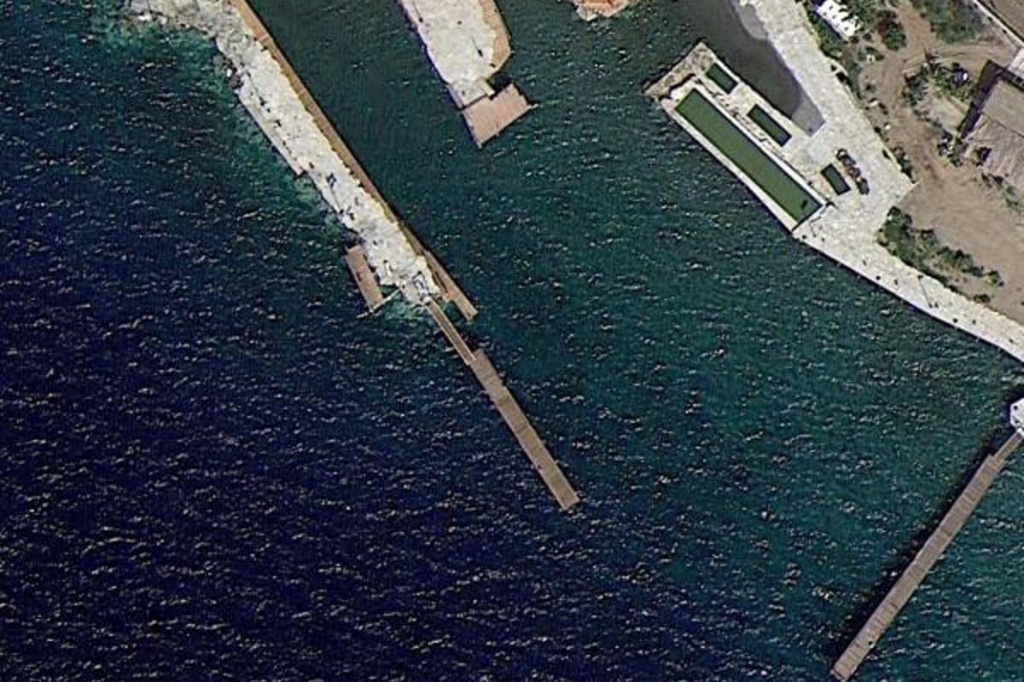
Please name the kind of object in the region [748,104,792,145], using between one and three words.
swimming pool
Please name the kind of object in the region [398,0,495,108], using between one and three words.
pier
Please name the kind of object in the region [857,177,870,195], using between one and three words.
vehicle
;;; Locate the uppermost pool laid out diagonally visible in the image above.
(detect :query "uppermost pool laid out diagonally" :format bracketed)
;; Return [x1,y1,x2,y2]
[708,64,738,92]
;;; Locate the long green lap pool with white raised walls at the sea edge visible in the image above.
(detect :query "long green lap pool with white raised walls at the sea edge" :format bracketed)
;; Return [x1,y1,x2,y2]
[669,80,828,228]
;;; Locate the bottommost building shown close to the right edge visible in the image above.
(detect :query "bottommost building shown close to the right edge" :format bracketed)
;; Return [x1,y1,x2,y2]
[966,79,1024,183]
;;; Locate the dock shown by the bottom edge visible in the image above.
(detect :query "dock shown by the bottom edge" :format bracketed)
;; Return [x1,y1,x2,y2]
[831,456,1004,682]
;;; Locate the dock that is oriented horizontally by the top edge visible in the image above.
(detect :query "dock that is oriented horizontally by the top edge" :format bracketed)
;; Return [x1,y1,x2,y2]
[573,0,634,20]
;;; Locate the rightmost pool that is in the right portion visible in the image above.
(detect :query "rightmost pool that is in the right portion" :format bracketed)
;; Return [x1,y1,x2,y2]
[822,164,850,195]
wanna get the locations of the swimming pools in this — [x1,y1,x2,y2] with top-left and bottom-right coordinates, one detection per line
[669,80,828,228]
[748,104,792,145]
[822,164,850,195]
[708,64,738,92]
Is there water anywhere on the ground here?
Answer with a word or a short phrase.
Yes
